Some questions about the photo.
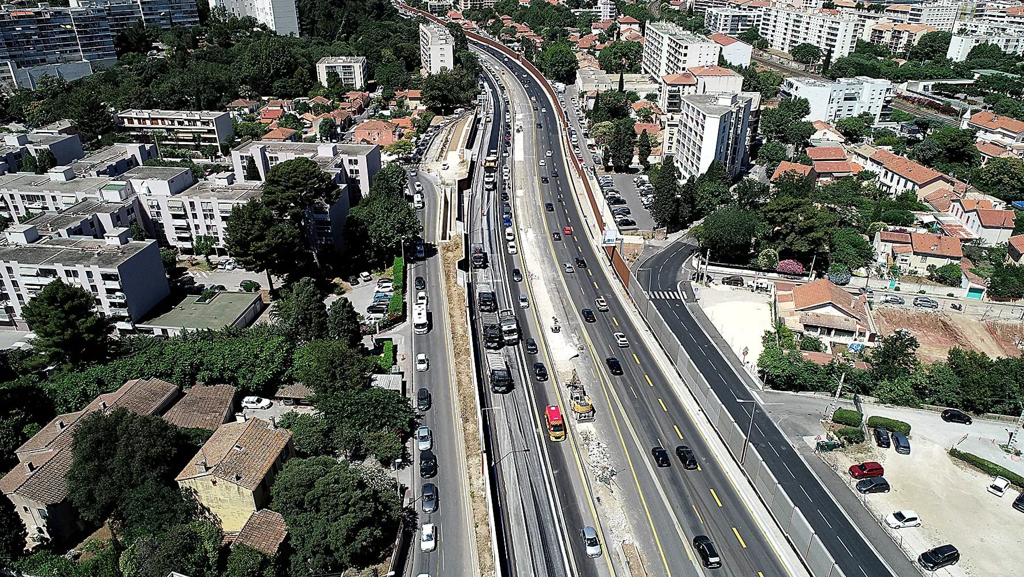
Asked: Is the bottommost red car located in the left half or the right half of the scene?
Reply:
right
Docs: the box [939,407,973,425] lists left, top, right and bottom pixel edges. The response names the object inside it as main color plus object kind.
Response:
black car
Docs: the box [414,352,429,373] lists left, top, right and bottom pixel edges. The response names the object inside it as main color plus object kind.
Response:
white car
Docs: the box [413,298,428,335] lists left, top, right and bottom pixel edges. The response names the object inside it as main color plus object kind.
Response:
white camper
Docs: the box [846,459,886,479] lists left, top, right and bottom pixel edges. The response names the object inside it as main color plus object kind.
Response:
red car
